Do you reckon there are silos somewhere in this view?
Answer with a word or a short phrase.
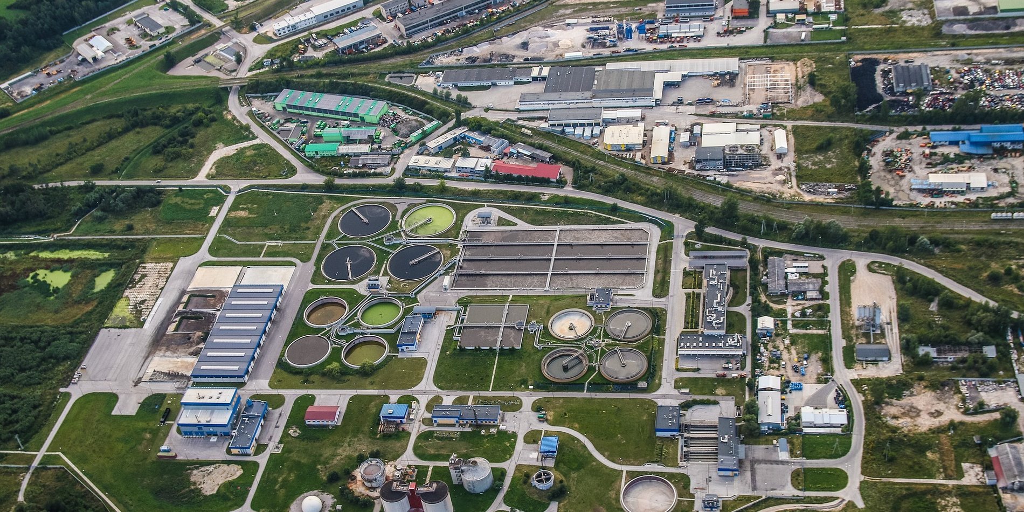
Yes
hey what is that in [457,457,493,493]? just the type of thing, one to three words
silo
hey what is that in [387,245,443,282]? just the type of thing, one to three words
storage tank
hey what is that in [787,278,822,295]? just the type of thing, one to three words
barn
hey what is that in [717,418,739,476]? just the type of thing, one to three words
building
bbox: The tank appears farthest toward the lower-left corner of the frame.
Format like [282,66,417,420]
[285,335,331,368]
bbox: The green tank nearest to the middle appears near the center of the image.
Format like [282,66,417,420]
[402,203,456,236]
